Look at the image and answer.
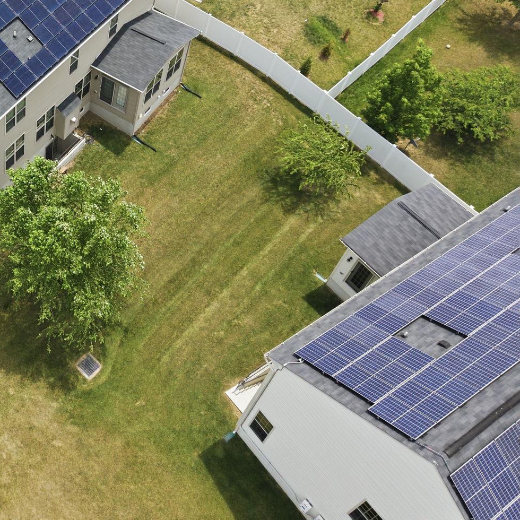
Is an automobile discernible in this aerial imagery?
No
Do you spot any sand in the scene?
No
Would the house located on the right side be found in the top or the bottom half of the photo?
bottom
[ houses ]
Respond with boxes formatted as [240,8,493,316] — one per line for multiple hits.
[0,0,198,189]
[225,183,520,520]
